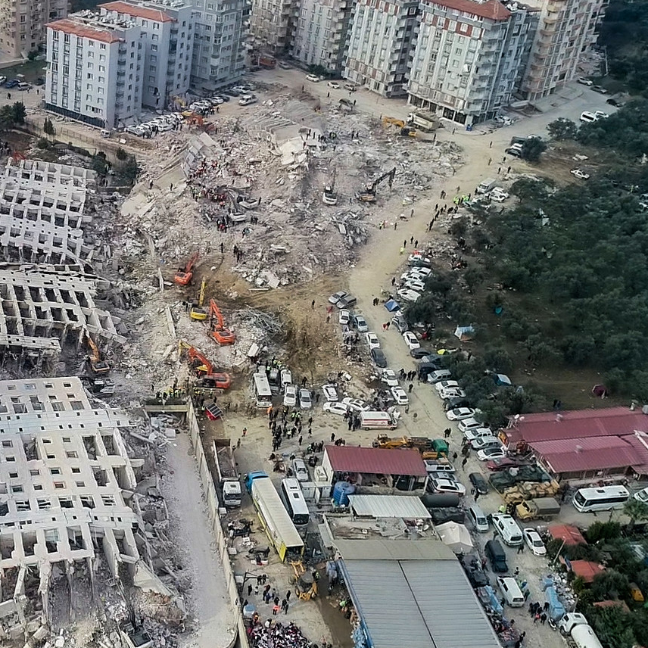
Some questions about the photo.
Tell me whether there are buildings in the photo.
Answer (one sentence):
Yes, a building is visible in the scene.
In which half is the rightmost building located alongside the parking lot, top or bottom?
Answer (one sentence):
The rightmost building located alongside the parking lot sits in the top half of the picture.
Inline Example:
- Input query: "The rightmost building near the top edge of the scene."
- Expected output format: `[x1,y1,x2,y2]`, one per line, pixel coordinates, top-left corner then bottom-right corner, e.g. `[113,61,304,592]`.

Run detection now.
[511,0,611,92]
